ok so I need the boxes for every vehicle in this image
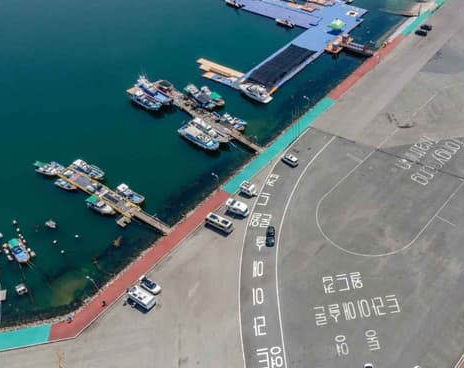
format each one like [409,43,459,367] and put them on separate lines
[239,180,257,198]
[224,197,254,221]
[265,227,275,247]
[415,29,428,37]
[140,278,163,296]
[280,152,301,168]
[129,286,158,311]
[420,23,433,32]
[365,362,375,368]
[203,211,238,235]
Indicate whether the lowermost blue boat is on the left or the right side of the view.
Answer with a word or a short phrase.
left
